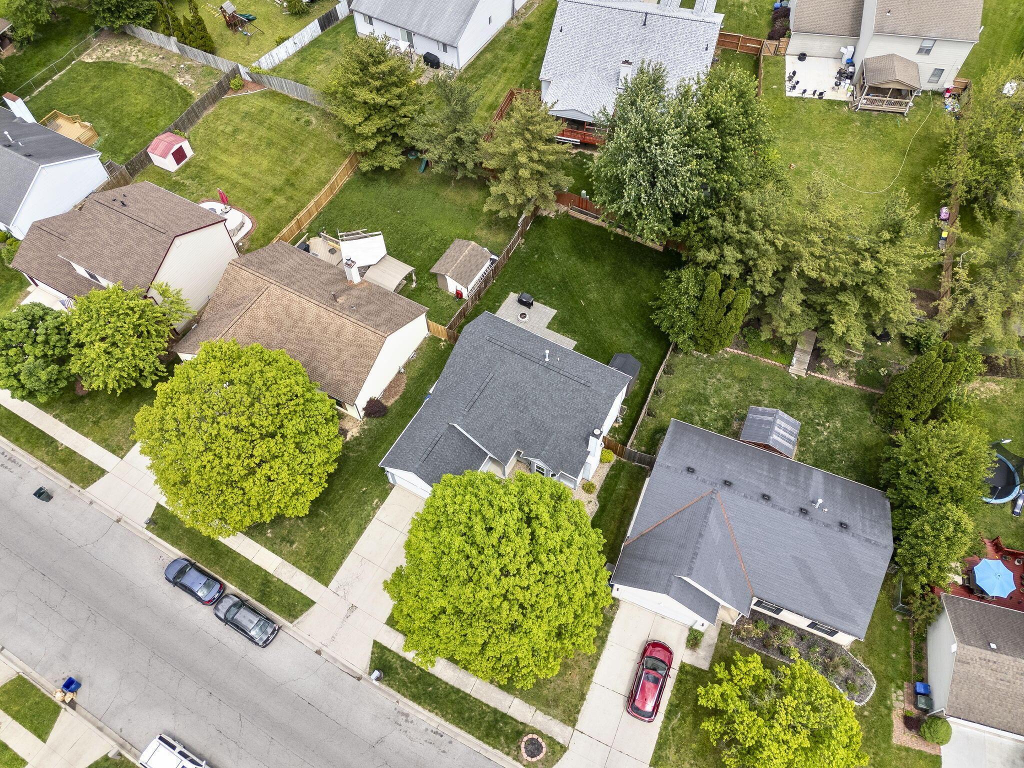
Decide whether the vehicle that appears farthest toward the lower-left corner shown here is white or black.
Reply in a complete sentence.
From above, the vehicle that appears farthest toward the lower-left corner appears white.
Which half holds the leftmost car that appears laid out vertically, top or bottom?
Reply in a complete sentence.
It is in the bottom half that the leftmost car that appears laid out vertically appears.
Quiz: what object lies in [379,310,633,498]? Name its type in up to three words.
house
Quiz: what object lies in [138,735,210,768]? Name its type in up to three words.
vehicle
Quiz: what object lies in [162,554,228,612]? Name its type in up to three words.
car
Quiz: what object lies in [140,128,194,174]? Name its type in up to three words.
shed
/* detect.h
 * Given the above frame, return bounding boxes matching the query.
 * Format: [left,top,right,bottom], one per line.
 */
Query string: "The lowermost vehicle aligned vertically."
[626,640,672,726]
